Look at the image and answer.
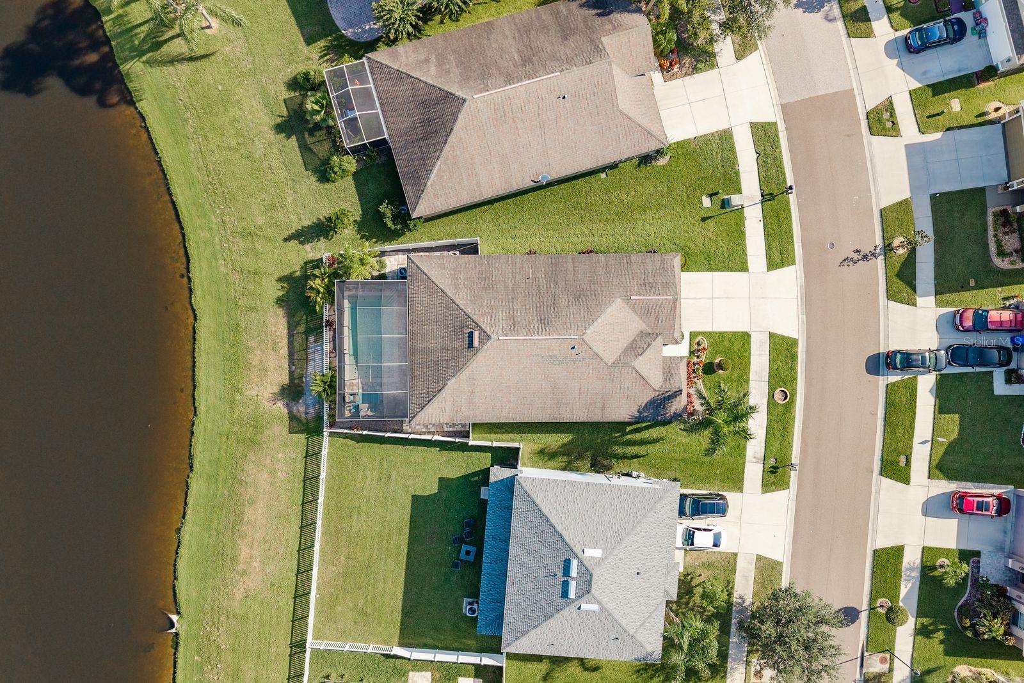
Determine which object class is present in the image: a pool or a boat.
pool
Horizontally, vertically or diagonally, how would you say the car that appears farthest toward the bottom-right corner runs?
horizontally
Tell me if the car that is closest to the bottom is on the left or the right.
right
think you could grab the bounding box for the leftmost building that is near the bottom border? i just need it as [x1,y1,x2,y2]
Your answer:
[476,460,681,663]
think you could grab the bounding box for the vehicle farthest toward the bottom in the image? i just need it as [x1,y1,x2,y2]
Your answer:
[674,522,729,553]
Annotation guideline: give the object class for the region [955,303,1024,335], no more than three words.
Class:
car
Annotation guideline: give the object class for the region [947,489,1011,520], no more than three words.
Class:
car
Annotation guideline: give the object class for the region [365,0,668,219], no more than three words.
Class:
house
